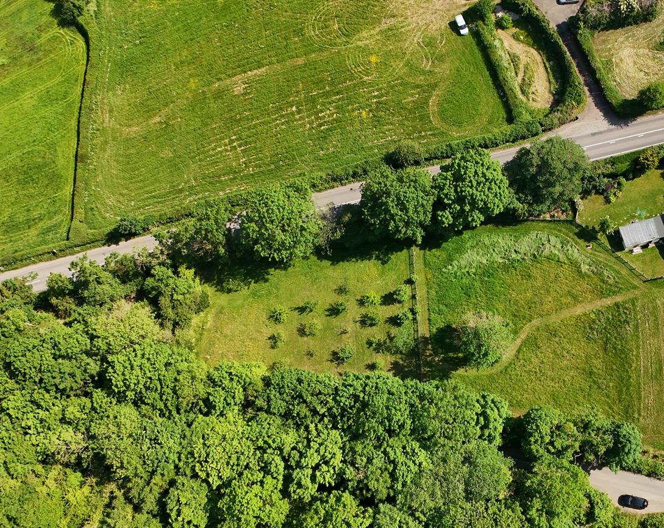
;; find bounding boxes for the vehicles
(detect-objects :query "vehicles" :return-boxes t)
[558,0,579,6]
[618,493,648,509]
[453,11,470,37]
